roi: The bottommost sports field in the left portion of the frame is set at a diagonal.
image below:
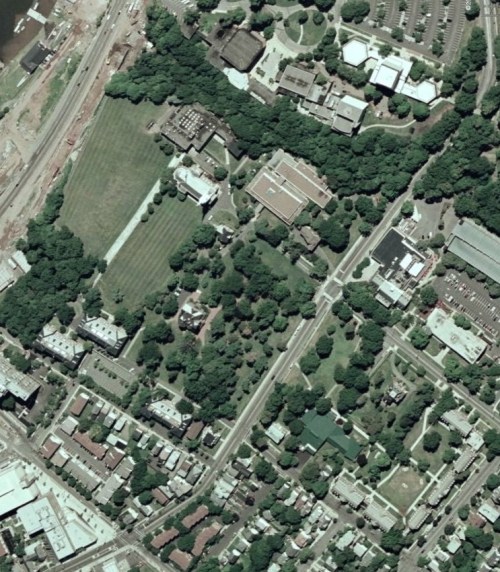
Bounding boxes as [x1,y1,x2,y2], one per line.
[98,182,204,315]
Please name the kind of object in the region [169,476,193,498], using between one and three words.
house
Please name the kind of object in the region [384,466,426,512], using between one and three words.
sports field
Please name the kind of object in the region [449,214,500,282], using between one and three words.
shed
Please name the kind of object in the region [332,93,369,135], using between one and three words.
building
